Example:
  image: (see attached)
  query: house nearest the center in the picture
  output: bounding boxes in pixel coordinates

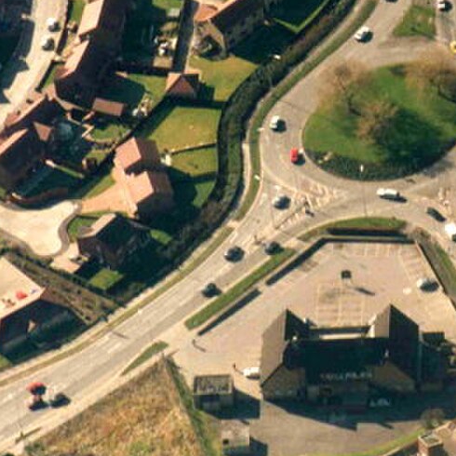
[125,168,176,218]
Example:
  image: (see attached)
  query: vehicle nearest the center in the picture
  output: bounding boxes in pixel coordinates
[224,247,242,261]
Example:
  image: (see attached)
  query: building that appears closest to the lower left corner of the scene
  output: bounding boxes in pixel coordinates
[0,289,72,358]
